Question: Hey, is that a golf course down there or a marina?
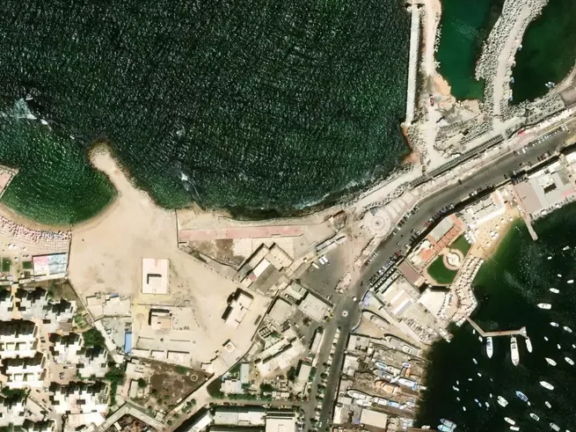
marina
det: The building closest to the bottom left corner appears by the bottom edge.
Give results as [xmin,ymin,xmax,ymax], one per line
[0,397,26,426]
